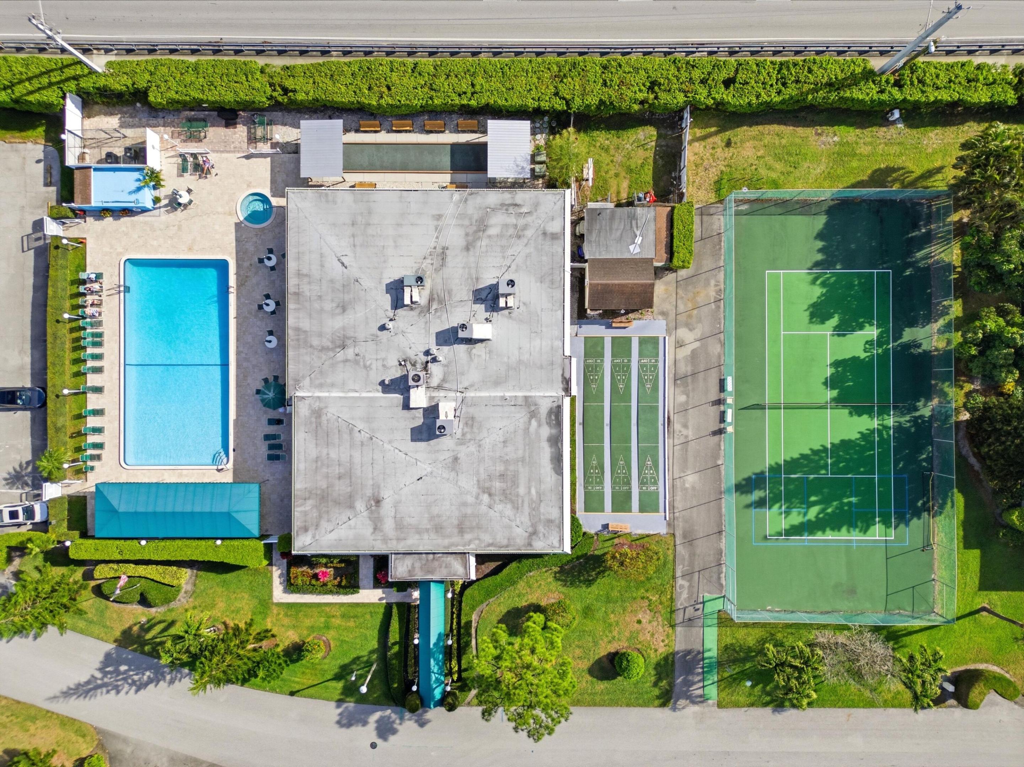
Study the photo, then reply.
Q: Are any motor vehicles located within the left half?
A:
Yes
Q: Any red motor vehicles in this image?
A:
No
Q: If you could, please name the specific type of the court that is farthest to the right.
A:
tennis court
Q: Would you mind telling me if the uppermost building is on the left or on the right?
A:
left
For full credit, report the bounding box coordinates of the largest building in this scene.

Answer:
[285,187,577,554]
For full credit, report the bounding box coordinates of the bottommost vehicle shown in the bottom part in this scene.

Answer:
[0,500,49,527]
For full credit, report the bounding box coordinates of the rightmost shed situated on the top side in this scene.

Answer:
[585,203,670,309]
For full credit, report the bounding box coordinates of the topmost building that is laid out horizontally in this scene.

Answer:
[77,168,156,211]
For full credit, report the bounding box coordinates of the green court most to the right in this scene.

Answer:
[724,199,932,611]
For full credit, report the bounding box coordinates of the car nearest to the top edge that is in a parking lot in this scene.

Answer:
[0,383,48,411]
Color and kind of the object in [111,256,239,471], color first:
blue swimming pool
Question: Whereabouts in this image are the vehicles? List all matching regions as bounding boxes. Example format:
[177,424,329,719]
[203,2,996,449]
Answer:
[0,383,48,411]
[0,500,49,527]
